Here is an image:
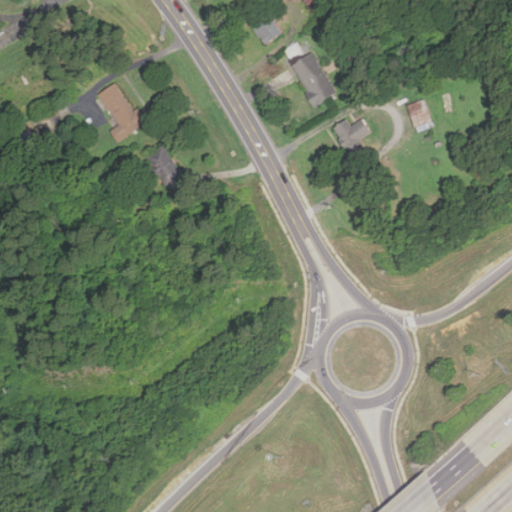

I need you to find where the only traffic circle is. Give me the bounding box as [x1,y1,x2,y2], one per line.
[307,236,414,498]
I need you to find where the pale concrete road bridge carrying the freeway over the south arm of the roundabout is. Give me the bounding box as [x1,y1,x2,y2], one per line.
[374,470,441,512]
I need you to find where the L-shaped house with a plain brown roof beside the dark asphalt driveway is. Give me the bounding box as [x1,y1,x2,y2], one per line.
[95,84,140,142]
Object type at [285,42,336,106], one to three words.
house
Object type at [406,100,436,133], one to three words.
barn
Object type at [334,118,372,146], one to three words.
house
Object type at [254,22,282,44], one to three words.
shed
